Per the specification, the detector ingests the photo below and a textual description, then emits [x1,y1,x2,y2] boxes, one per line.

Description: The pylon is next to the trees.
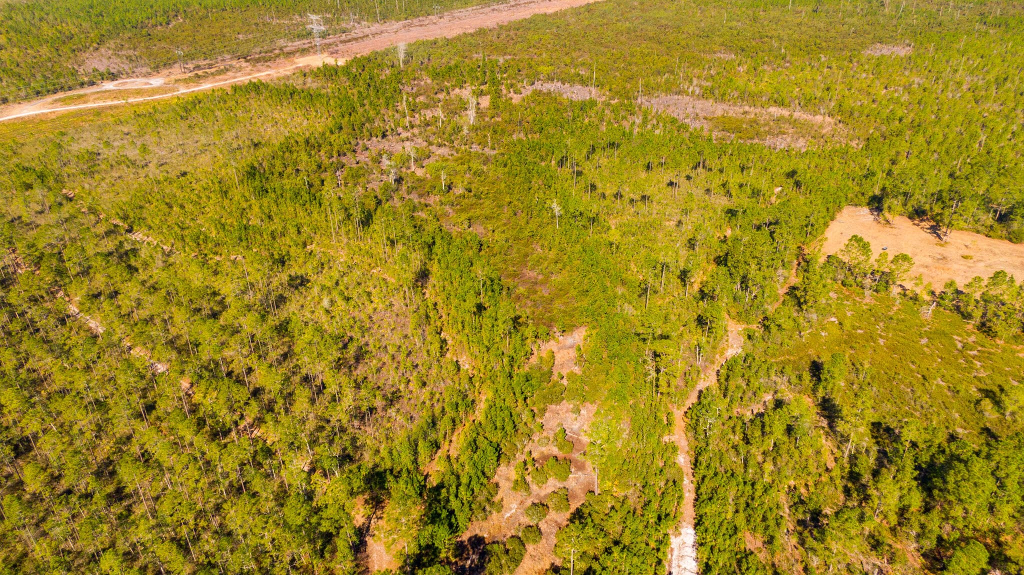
[306,15,324,59]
